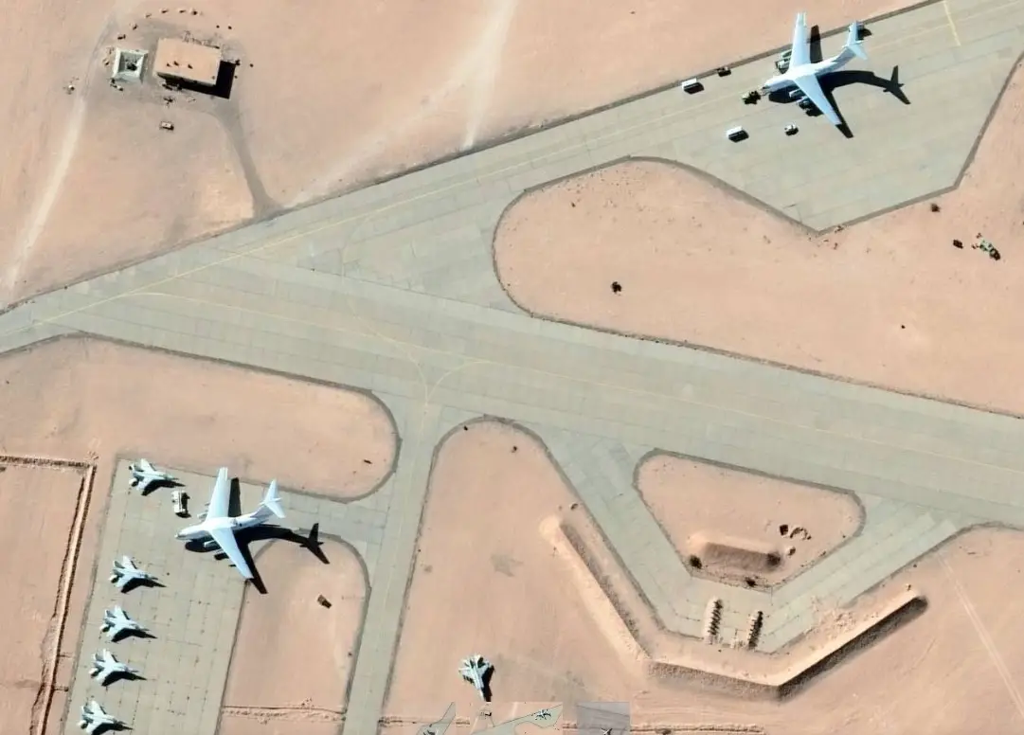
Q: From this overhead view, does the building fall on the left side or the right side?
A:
left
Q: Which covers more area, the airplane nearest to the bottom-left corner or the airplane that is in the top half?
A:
the airplane that is in the top half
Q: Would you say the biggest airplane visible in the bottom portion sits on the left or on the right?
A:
left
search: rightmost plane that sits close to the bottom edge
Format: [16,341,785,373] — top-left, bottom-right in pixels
[460,652,494,700]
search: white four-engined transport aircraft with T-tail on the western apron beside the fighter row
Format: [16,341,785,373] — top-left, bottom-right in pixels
[175,464,282,577]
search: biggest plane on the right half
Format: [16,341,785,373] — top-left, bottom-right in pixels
[763,11,870,120]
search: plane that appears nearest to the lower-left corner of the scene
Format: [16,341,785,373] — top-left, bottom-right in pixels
[78,700,123,734]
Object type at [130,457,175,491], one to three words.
airplane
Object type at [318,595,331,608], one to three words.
vehicle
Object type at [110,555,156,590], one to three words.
airplane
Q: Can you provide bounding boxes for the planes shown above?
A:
[175,464,282,577]
[130,457,175,491]
[763,11,870,120]
[460,652,494,700]
[110,555,156,590]
[101,605,149,639]
[78,700,123,734]
[90,647,136,682]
